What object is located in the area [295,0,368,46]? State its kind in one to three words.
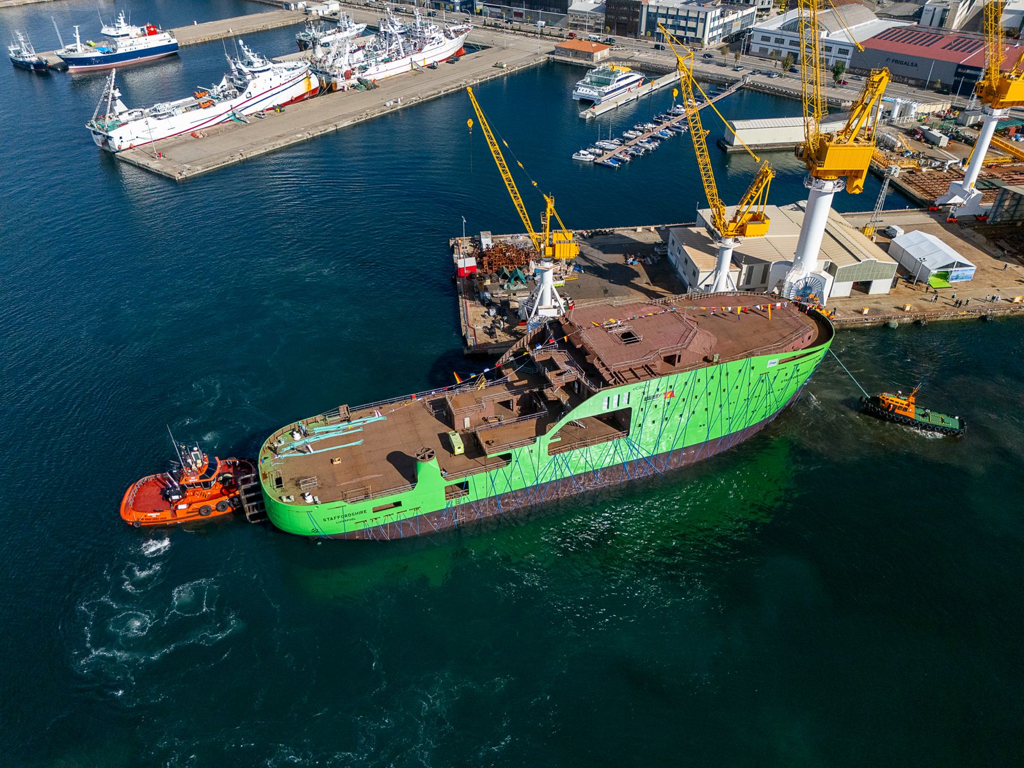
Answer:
vessel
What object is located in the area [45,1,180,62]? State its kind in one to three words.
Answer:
ship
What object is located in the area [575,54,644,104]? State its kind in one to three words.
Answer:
ship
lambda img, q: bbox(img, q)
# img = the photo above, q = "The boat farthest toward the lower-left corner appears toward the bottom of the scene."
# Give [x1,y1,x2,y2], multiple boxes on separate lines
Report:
[116,442,255,527]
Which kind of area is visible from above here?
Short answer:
port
